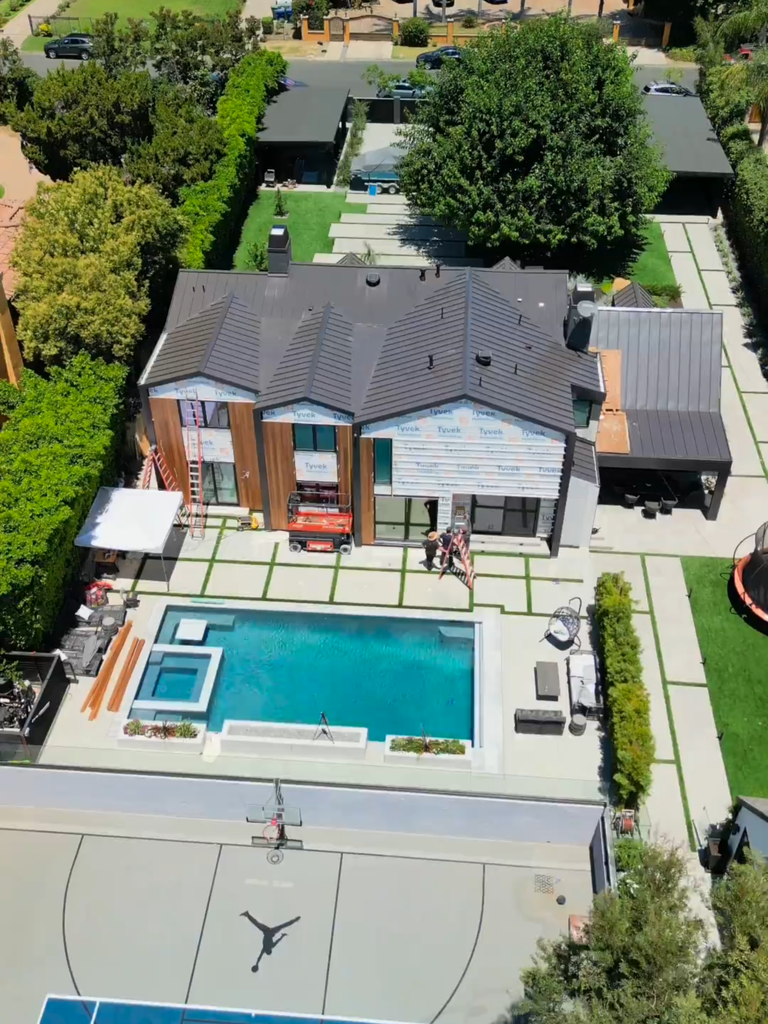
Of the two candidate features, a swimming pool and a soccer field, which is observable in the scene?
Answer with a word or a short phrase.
swimming pool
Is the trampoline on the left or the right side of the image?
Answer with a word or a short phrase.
right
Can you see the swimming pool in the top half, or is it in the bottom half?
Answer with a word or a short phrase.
bottom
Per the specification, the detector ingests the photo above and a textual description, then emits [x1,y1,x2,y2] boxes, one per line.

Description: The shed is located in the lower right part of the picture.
[727,798,768,882]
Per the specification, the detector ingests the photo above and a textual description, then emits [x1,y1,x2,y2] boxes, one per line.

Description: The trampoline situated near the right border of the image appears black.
[728,518,768,609]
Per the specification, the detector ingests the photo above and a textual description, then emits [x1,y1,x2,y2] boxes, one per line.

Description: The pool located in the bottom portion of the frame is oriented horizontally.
[96,597,507,765]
